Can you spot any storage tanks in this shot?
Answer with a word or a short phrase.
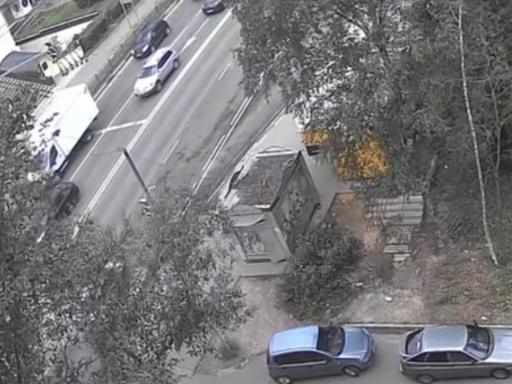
No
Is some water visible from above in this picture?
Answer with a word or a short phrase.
No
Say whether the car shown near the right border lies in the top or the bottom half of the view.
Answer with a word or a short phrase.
bottom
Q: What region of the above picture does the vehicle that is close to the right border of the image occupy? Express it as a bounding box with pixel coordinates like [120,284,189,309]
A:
[399,319,512,381]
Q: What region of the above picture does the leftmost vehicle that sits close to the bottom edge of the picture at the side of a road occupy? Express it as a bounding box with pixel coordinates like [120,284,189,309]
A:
[263,318,377,384]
